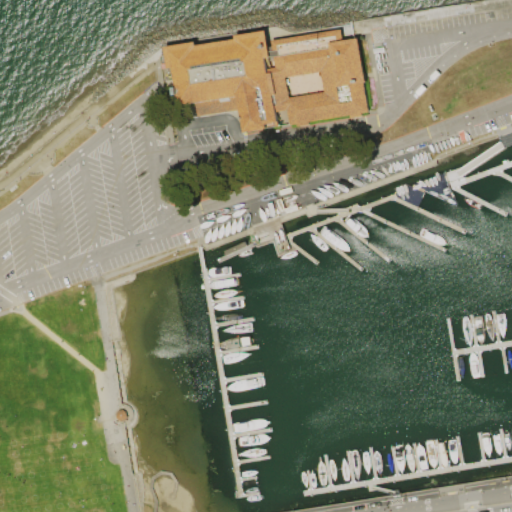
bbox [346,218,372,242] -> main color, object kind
white boat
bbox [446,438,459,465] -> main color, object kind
white boat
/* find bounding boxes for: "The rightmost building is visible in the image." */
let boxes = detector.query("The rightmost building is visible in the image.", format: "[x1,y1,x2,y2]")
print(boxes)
[268,28,370,126]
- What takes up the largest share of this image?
water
